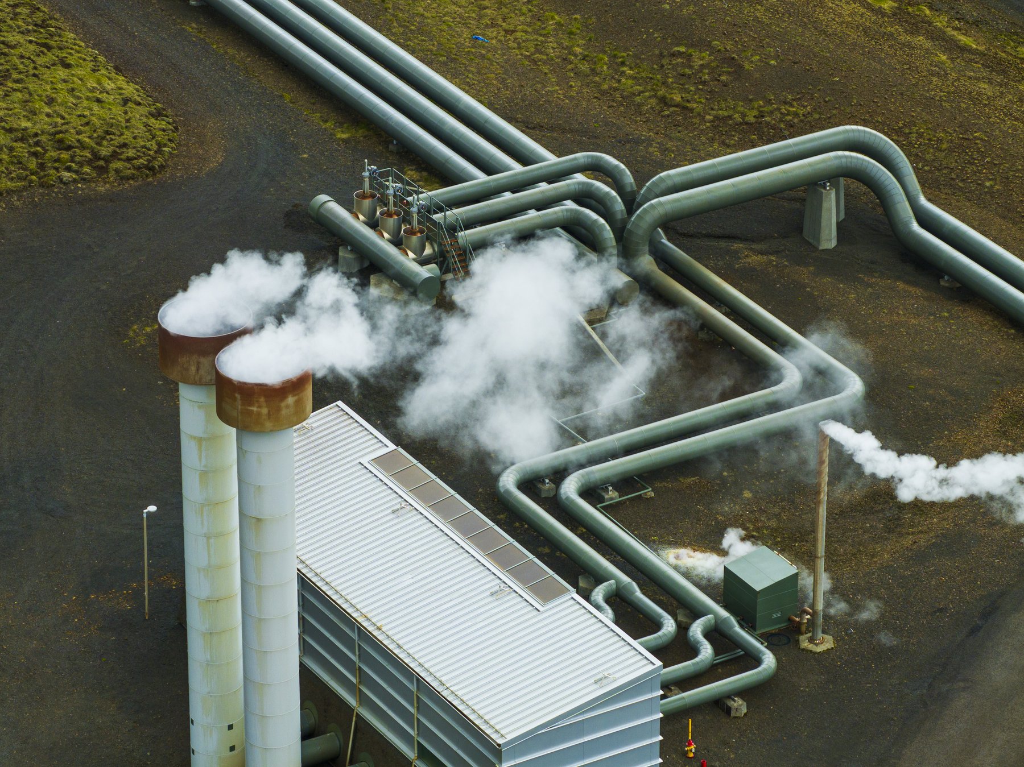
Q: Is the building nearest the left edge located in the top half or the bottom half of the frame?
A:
bottom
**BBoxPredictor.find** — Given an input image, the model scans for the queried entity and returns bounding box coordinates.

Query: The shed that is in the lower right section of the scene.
[724,546,800,634]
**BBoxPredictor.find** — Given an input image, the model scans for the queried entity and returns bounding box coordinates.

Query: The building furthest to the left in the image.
[293,399,664,767]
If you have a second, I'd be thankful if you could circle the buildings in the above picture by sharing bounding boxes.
[293,399,664,767]
[724,546,800,634]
